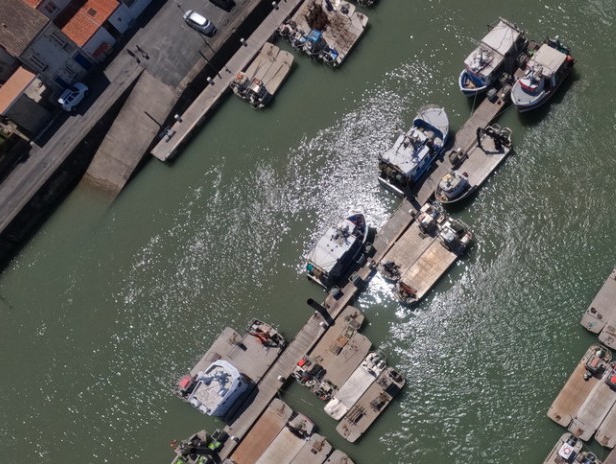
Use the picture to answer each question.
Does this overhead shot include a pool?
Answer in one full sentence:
No, there's no pool here.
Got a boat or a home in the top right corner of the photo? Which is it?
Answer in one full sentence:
The feature located in the top right corner of the photo is a boat.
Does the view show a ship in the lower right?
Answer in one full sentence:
Yes, there is a ship in the lower right.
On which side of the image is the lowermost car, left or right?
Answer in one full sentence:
You can find the lowermost car on the left side of the picture.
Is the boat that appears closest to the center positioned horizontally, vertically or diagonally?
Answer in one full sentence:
The boat that appears closest to the center is laid out diagonally.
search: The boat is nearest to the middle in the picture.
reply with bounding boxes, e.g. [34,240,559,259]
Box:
[304,211,367,292]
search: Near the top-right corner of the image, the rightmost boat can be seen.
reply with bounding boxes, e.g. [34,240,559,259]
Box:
[516,36,581,113]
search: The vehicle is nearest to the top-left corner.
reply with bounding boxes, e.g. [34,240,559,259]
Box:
[58,83,93,115]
